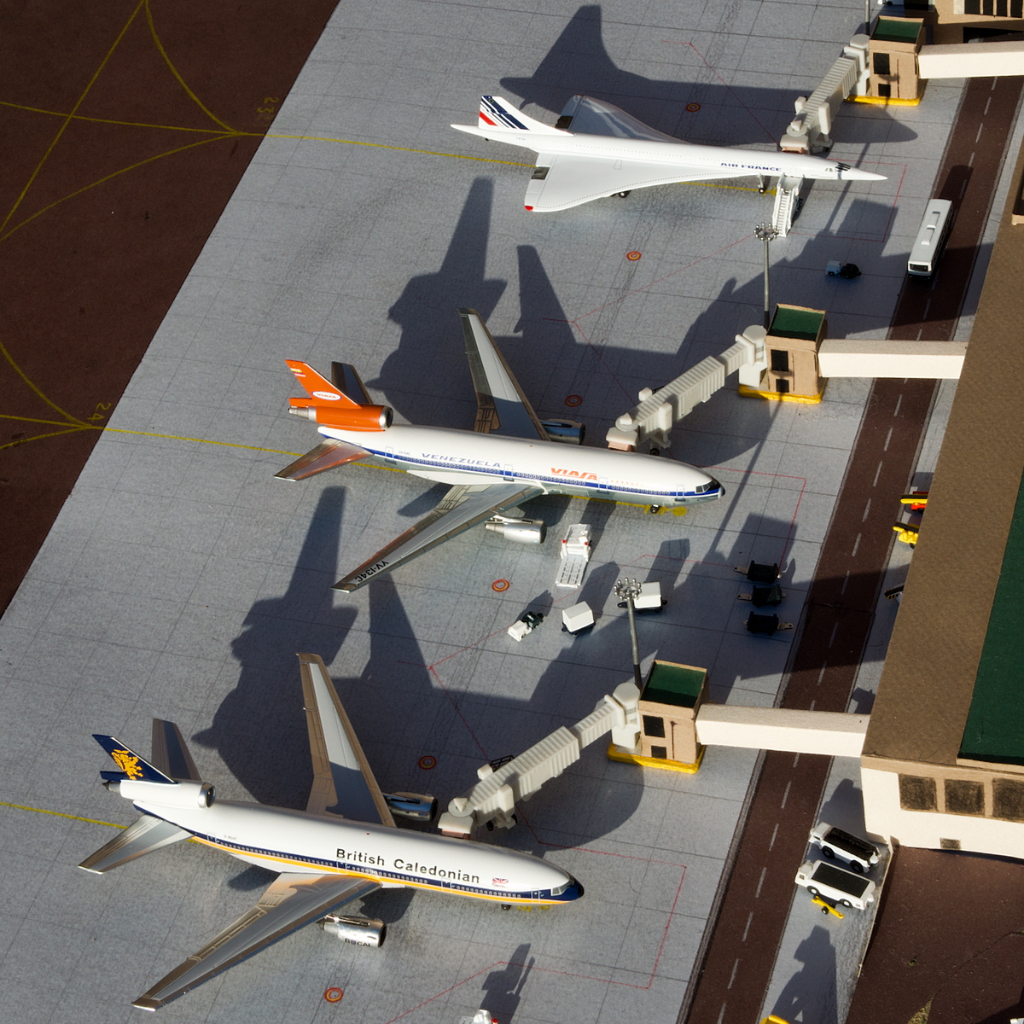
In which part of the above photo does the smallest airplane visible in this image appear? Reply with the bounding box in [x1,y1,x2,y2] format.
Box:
[451,94,887,211]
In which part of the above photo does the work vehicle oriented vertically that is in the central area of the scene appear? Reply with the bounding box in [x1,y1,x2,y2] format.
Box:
[554,516,596,590]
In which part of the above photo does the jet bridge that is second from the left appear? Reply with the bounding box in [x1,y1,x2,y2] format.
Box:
[606,324,767,456]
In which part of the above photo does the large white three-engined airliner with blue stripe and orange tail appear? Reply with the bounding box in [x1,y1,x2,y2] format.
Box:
[274,308,725,591]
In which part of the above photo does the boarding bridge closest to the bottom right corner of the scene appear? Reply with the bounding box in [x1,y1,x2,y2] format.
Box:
[437,681,642,843]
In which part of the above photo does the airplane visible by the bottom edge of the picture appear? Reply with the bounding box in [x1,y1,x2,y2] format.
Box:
[79,653,584,1011]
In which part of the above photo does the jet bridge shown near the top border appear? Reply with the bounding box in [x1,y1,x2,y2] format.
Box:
[782,33,870,157]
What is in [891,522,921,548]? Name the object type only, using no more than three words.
work vehicle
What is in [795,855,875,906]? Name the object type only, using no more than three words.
truck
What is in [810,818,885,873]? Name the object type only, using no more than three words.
truck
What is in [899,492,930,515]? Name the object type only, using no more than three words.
work vehicle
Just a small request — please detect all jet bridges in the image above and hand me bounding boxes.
[437,681,642,843]
[782,33,870,157]
[606,324,767,456]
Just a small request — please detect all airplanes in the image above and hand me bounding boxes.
[451,94,887,211]
[274,308,725,591]
[79,653,584,1011]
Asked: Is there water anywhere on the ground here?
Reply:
No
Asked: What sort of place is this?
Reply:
airport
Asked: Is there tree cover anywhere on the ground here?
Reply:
No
